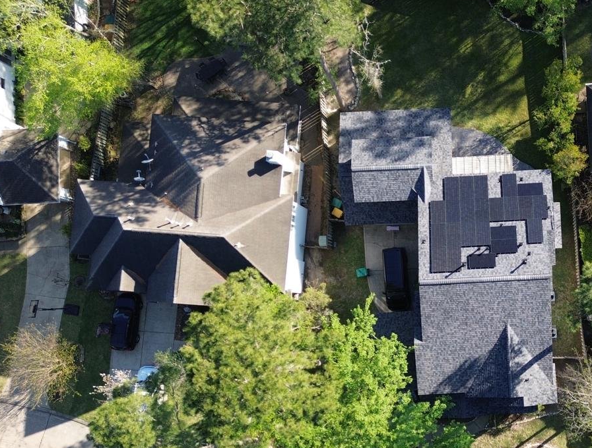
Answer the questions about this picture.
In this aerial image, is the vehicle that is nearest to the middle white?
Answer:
No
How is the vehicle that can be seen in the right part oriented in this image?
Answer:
up and down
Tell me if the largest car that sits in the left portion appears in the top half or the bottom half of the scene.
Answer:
bottom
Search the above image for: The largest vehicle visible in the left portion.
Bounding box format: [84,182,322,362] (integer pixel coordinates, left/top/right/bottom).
[108,291,144,353]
